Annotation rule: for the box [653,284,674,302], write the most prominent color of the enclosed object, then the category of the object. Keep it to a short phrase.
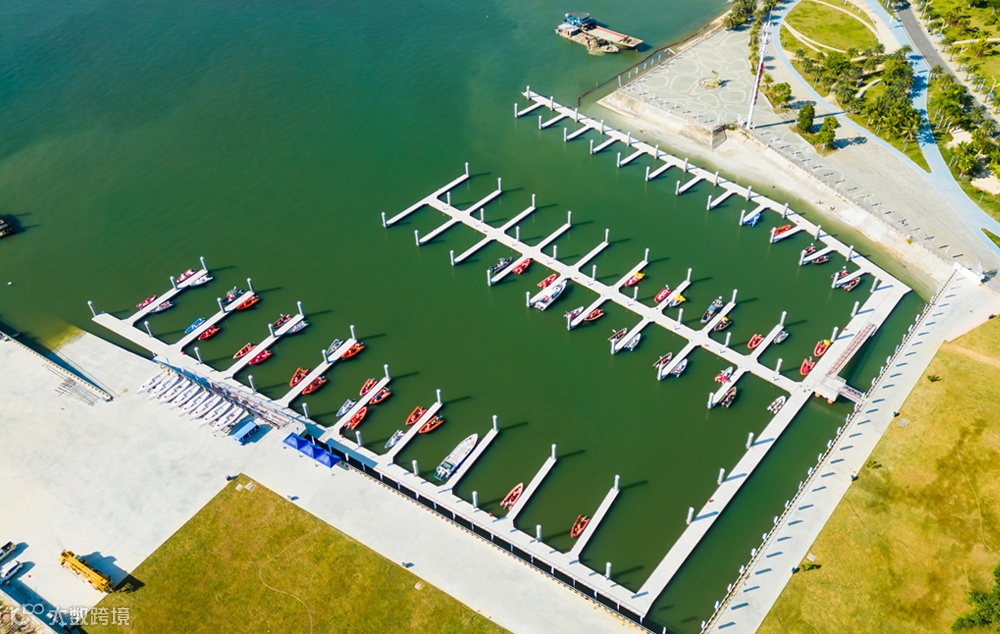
red boat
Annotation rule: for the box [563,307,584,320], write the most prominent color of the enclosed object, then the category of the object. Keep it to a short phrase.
white boat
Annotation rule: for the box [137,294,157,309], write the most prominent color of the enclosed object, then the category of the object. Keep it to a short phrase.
red boat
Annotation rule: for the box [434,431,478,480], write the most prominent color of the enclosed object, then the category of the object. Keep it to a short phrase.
white boat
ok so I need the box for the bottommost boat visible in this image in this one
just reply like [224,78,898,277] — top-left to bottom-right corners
[571,515,590,537]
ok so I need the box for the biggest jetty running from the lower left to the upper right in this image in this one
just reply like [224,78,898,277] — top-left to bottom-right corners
[638,277,912,617]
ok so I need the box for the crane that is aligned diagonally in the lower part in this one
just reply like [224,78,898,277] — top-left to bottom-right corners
[55,550,114,597]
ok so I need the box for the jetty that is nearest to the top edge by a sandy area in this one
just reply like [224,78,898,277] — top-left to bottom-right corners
[515,92,893,289]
